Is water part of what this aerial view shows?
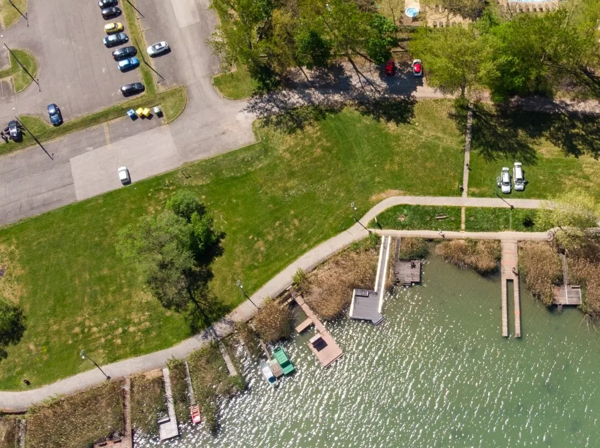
Yes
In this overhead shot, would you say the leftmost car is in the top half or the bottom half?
top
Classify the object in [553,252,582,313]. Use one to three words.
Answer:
pier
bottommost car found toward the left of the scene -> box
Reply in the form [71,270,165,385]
[116,163,132,189]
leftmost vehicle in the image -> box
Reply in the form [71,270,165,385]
[0,117,25,144]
